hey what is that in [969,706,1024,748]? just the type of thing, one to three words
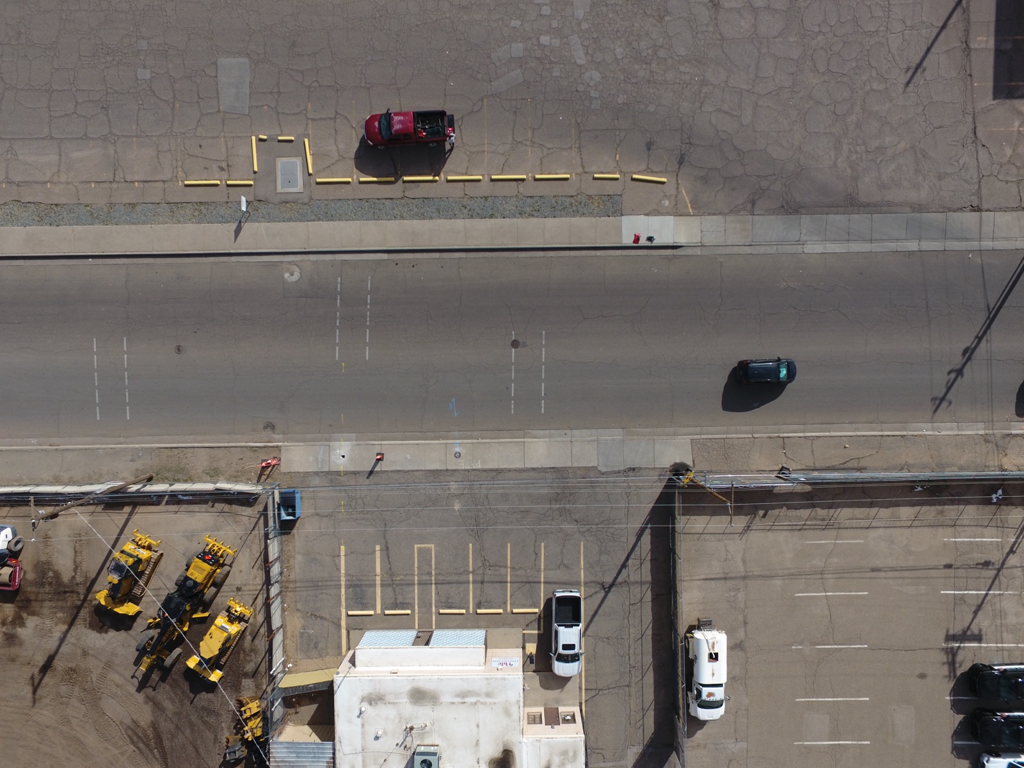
truck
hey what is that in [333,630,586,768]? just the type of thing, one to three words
building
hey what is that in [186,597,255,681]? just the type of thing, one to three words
work vehicle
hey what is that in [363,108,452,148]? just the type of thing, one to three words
truck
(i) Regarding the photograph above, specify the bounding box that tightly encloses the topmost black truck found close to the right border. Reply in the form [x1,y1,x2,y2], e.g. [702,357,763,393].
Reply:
[965,660,1024,701]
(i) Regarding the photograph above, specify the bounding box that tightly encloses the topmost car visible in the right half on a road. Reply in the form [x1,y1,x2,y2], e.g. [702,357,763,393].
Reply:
[735,356,796,390]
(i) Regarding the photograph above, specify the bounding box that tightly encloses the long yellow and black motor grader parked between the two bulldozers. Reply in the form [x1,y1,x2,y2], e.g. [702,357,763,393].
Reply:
[129,537,236,676]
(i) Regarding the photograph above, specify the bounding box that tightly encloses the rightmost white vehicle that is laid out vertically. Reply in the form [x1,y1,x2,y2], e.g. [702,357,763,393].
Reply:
[686,621,731,718]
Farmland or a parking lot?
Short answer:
parking lot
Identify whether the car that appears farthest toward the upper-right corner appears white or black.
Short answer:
black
